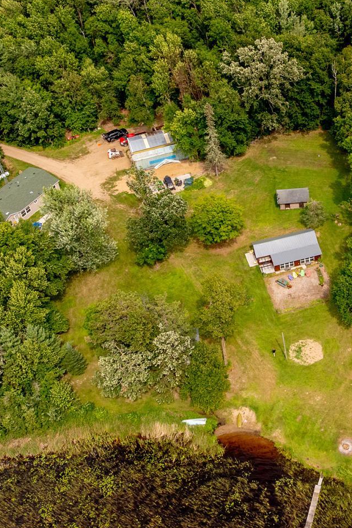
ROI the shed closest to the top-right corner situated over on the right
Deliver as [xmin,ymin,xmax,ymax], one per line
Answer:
[276,186,307,211]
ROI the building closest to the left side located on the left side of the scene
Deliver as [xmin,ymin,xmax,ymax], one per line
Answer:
[0,167,58,230]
